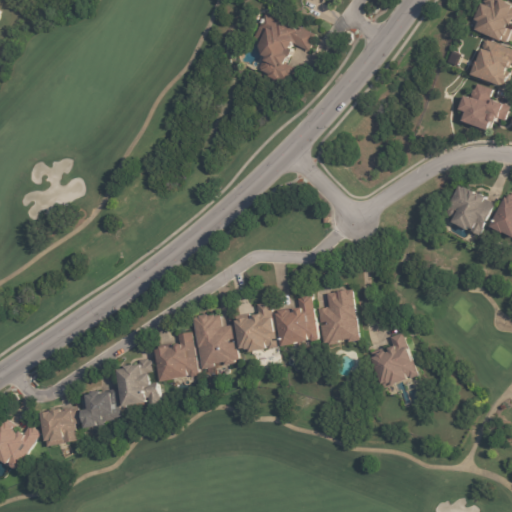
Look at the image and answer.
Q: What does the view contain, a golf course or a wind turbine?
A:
golf course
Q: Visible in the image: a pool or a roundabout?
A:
pool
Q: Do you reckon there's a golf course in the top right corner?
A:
No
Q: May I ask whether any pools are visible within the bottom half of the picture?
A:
Yes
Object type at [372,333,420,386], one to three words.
house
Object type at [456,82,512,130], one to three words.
house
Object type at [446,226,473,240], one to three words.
swimming pool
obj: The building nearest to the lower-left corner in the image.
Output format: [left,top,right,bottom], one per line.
[0,419,42,467]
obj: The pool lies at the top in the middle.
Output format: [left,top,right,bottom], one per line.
[240,51,260,70]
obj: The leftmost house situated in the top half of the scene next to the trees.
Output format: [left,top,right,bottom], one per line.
[255,15,317,80]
